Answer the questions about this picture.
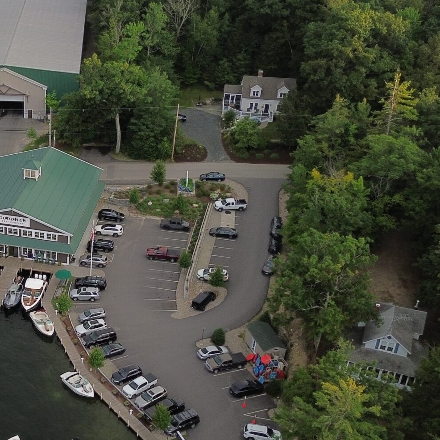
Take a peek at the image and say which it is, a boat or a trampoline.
boat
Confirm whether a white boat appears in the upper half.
No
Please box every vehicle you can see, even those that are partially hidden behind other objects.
[159,218,193,232]
[209,228,239,239]
[162,409,204,438]
[194,344,231,361]
[95,223,123,237]
[95,343,131,362]
[80,326,118,350]
[213,198,248,211]
[118,372,162,400]
[79,254,108,268]
[203,352,249,373]
[75,305,109,323]
[242,422,284,440]
[267,232,281,254]
[199,173,226,182]
[69,286,101,302]
[85,237,116,251]
[197,267,229,281]
[145,246,181,261]
[190,291,219,309]
[261,255,279,276]
[132,385,170,410]
[74,274,107,290]
[74,316,108,336]
[227,381,265,399]
[97,209,125,222]
[108,362,145,385]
